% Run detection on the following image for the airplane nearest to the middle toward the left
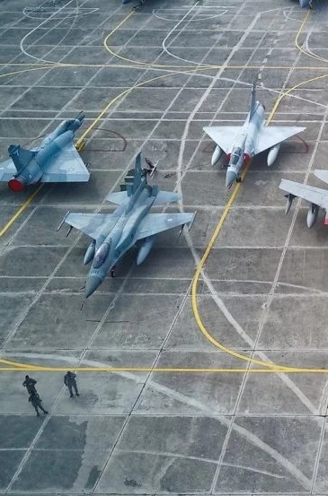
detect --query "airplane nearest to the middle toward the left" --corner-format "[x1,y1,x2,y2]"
[56,152,198,303]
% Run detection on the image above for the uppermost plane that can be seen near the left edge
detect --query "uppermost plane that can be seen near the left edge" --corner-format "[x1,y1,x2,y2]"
[0,114,90,201]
